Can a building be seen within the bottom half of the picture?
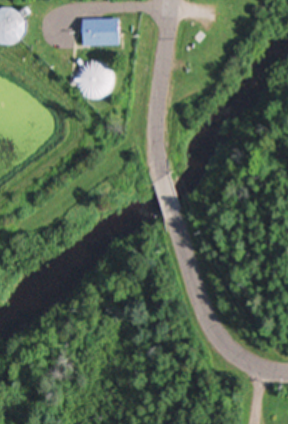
No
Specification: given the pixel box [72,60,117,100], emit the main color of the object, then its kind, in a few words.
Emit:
white storage tank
